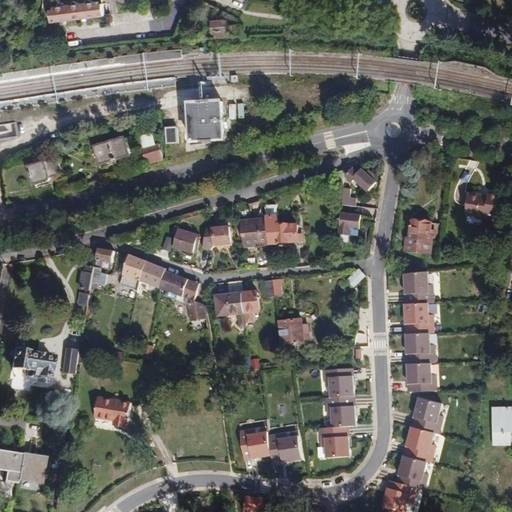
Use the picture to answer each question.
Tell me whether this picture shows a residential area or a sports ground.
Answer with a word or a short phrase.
residential area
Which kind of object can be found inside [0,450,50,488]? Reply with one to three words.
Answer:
house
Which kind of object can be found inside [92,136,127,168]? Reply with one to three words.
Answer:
house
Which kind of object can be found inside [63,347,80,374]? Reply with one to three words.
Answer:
barn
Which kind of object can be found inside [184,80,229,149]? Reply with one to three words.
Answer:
building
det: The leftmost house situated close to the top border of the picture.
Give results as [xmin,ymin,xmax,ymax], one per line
[48,2,107,25]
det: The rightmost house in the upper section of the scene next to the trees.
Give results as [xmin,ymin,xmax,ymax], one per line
[464,191,494,214]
